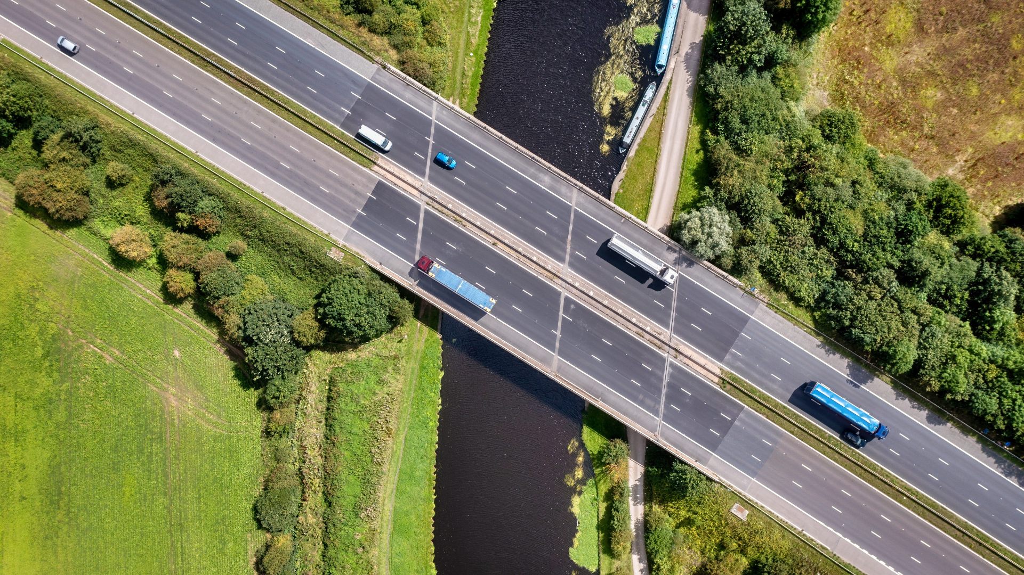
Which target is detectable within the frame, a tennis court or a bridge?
bridge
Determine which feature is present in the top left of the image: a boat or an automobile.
automobile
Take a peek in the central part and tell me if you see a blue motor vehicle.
Yes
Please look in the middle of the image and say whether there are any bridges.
Yes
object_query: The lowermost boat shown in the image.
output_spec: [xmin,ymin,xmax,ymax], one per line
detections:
[618,81,656,154]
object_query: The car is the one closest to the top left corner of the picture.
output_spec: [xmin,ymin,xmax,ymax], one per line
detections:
[58,36,80,53]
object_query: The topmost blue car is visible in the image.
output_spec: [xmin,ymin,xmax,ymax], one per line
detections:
[436,152,457,169]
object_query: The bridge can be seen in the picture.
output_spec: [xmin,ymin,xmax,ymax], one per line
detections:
[361,60,751,478]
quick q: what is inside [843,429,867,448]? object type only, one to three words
car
